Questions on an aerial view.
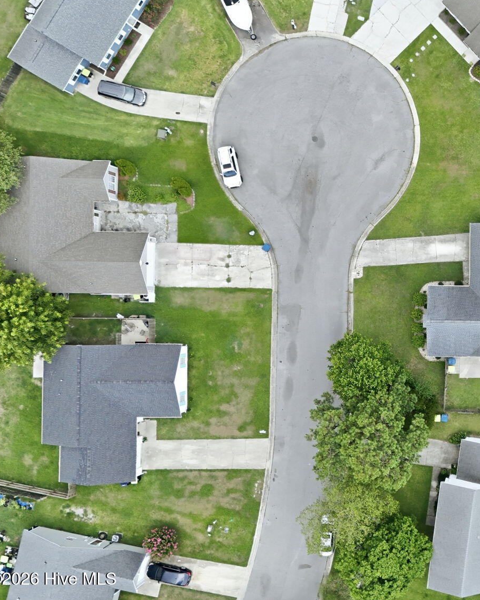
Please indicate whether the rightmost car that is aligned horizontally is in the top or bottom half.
bottom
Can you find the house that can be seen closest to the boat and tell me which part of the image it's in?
top left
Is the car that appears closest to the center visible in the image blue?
No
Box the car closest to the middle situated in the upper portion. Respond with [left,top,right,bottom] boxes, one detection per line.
[218,144,243,189]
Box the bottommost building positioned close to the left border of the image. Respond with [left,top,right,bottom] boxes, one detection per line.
[8,526,151,600]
